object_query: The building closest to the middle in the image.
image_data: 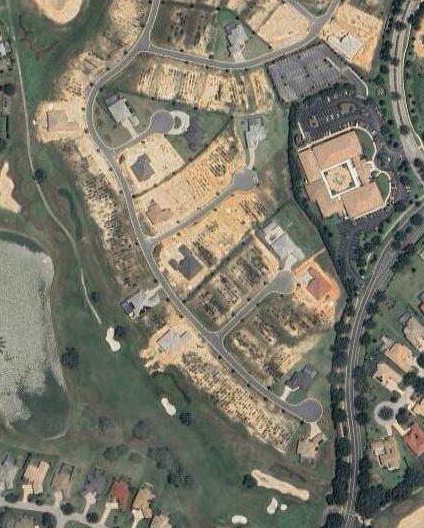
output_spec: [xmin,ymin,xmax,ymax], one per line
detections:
[170,248,204,278]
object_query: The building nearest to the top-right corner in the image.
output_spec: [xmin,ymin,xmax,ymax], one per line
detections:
[331,28,361,61]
